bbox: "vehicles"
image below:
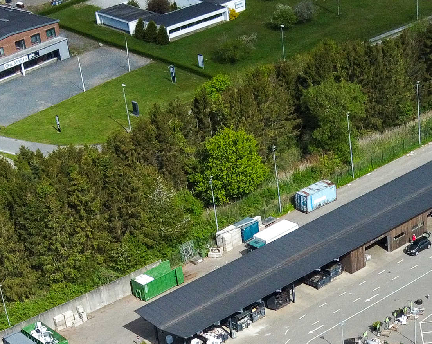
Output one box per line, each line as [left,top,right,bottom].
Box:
[245,219,306,256]
[405,230,432,255]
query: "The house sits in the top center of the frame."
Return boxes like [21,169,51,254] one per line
[96,0,247,42]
